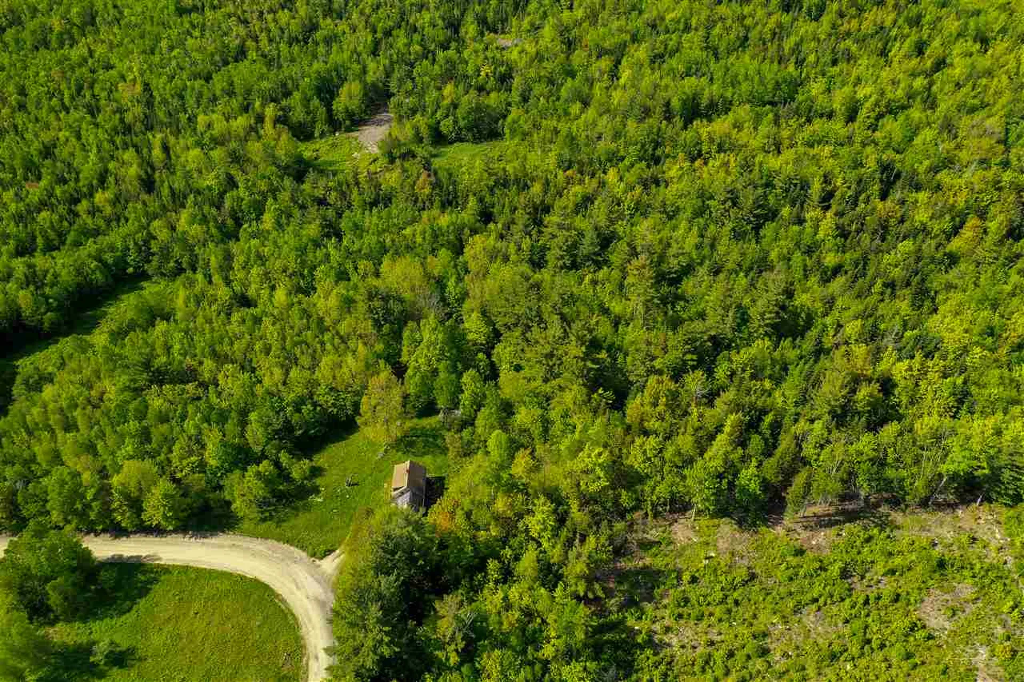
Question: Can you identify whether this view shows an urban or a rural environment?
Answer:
rural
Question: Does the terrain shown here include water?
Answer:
No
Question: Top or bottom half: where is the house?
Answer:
bottom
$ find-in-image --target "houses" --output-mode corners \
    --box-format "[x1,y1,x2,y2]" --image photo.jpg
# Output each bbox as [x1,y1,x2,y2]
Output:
[391,460,427,519]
